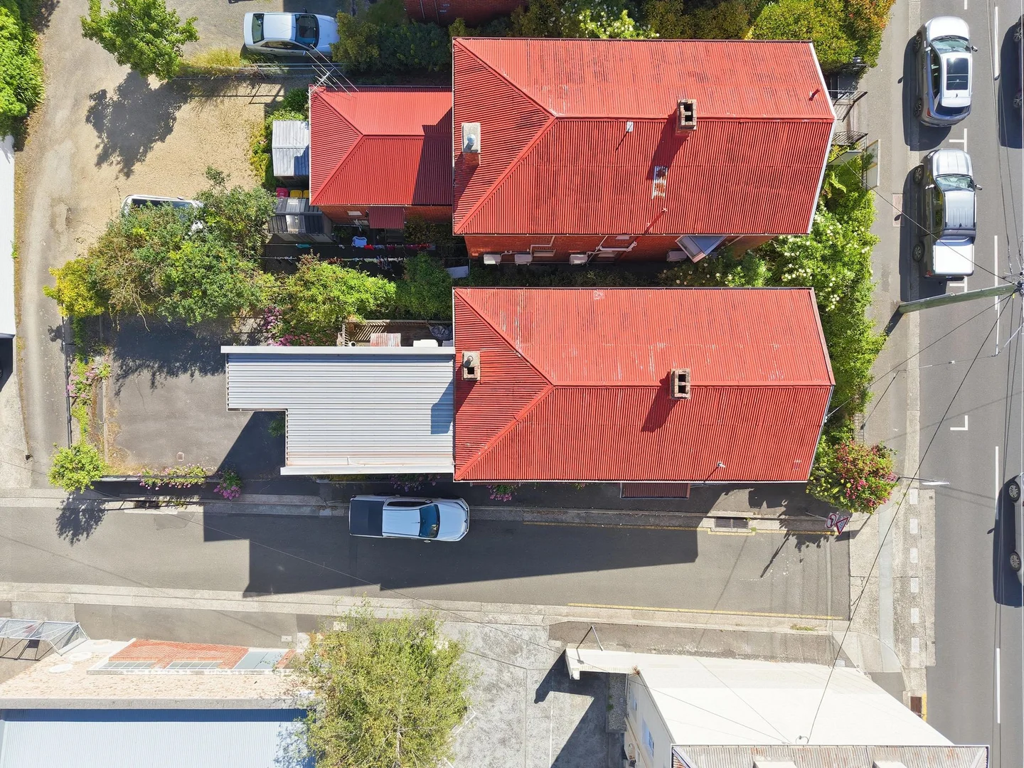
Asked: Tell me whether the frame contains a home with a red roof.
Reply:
Yes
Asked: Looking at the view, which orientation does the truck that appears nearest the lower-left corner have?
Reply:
horizontally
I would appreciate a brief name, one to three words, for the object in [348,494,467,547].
truck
